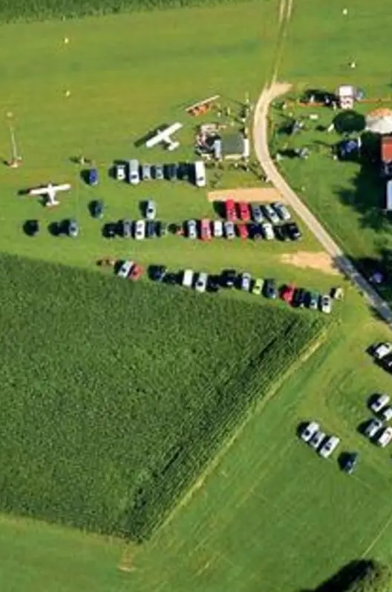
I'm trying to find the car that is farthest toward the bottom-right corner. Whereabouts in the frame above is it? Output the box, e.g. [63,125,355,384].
[341,451,357,474]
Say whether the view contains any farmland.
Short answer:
Yes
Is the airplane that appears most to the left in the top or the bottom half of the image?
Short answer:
top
